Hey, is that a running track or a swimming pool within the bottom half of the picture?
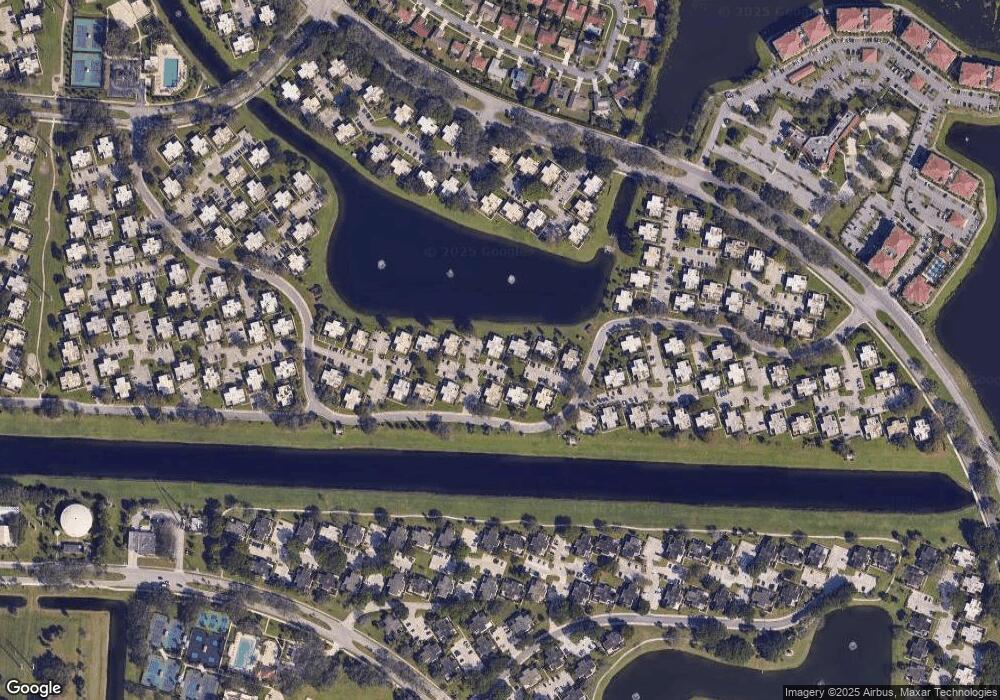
swimming pool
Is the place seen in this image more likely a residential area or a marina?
residential area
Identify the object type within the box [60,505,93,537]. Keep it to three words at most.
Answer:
storage tank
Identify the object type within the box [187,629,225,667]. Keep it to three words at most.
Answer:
sports court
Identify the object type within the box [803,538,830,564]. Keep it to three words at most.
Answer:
house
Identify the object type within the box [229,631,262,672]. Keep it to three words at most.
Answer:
swimming pool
